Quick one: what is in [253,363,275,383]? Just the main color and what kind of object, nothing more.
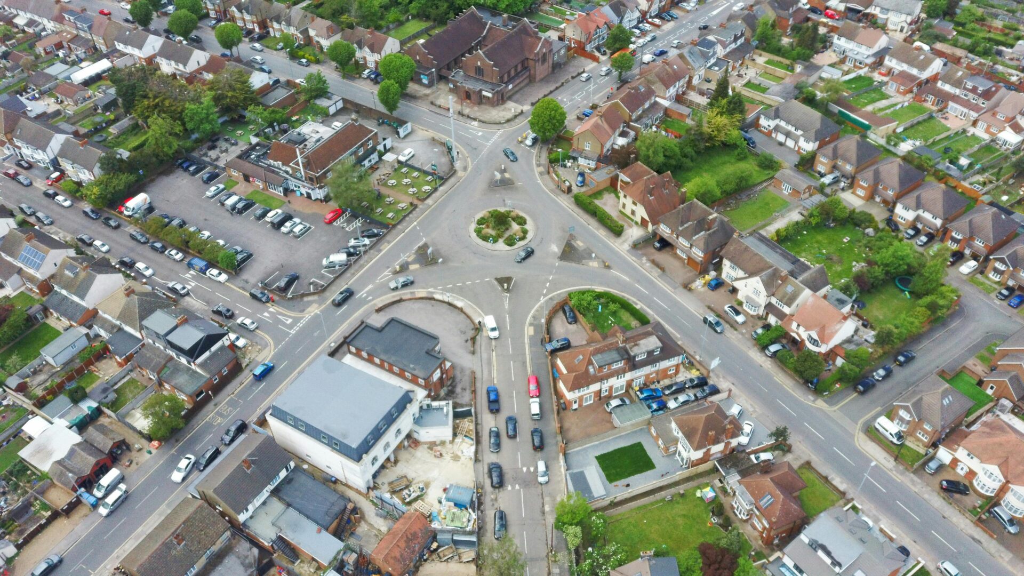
blue car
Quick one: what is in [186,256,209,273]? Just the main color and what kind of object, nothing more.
blue vehicle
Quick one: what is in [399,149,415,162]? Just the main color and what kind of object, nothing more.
white vehicle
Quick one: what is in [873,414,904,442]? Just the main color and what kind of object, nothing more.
white van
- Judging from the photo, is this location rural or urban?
urban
